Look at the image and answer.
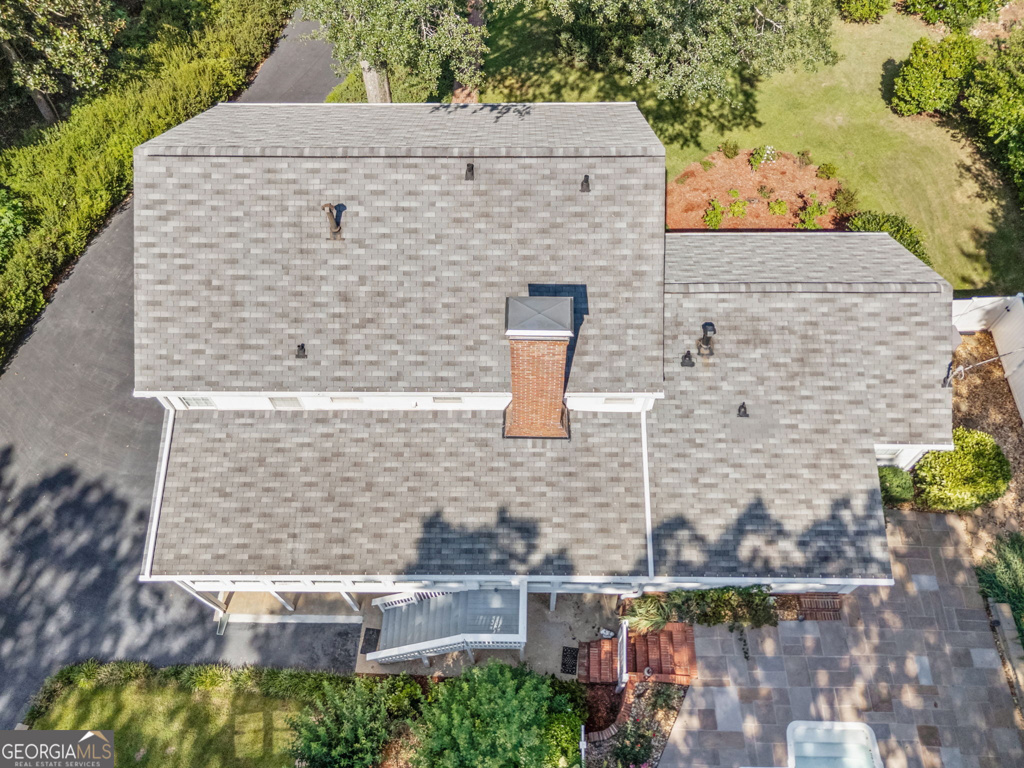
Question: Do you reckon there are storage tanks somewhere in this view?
No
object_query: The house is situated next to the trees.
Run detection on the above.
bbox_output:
[132,101,964,620]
